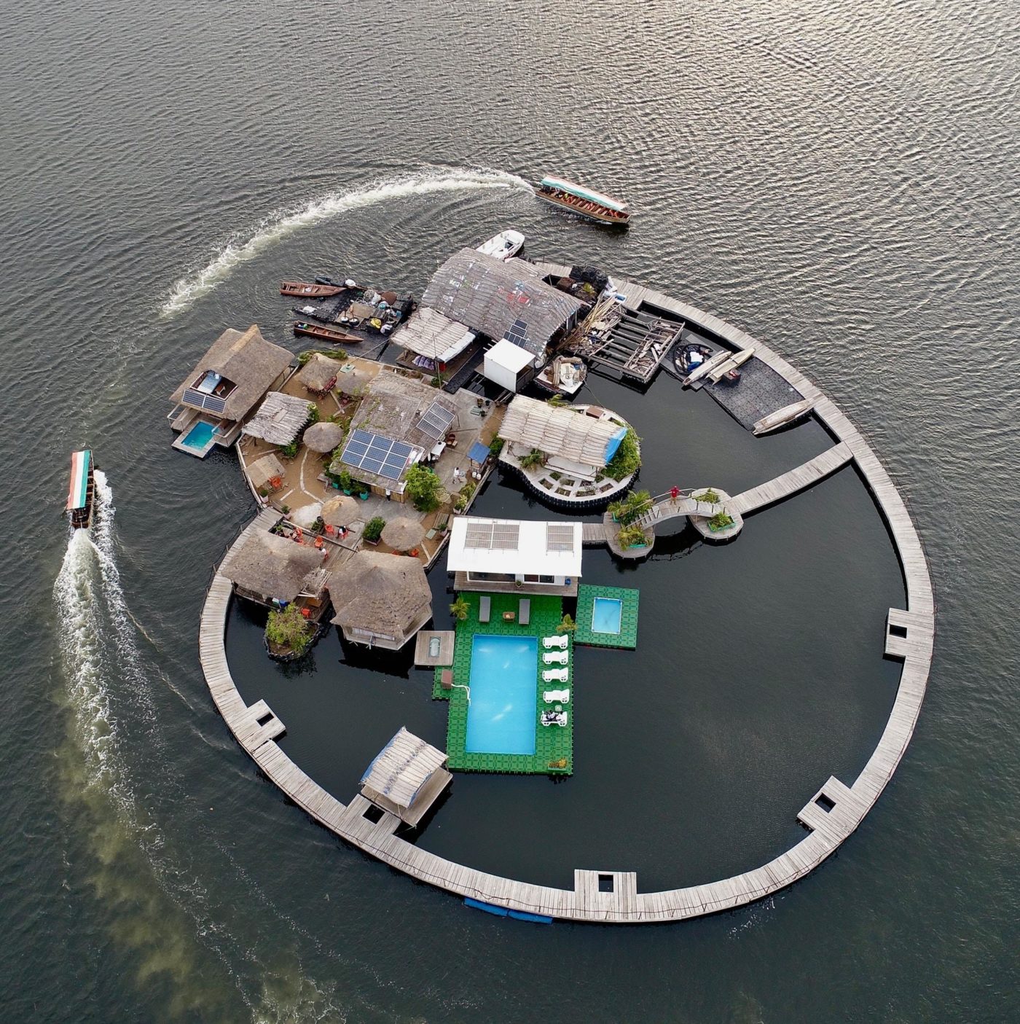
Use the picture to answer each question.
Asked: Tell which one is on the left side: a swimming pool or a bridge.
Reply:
swimming pool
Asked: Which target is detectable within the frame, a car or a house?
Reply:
house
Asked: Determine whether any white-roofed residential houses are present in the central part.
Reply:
Yes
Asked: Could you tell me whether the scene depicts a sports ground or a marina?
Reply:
marina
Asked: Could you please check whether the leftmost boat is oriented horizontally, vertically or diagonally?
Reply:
vertically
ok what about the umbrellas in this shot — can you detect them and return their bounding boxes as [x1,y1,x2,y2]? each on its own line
[313,496,365,536]
[327,367,376,402]
[375,517,431,558]
[300,421,346,458]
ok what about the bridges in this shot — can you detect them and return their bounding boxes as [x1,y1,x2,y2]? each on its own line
[628,490,720,534]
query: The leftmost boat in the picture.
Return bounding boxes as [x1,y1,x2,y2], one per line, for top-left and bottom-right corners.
[63,445,97,533]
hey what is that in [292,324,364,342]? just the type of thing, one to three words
boat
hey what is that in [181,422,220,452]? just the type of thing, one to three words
swimming pool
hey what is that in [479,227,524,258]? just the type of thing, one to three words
boat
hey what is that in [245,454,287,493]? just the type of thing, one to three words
shed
